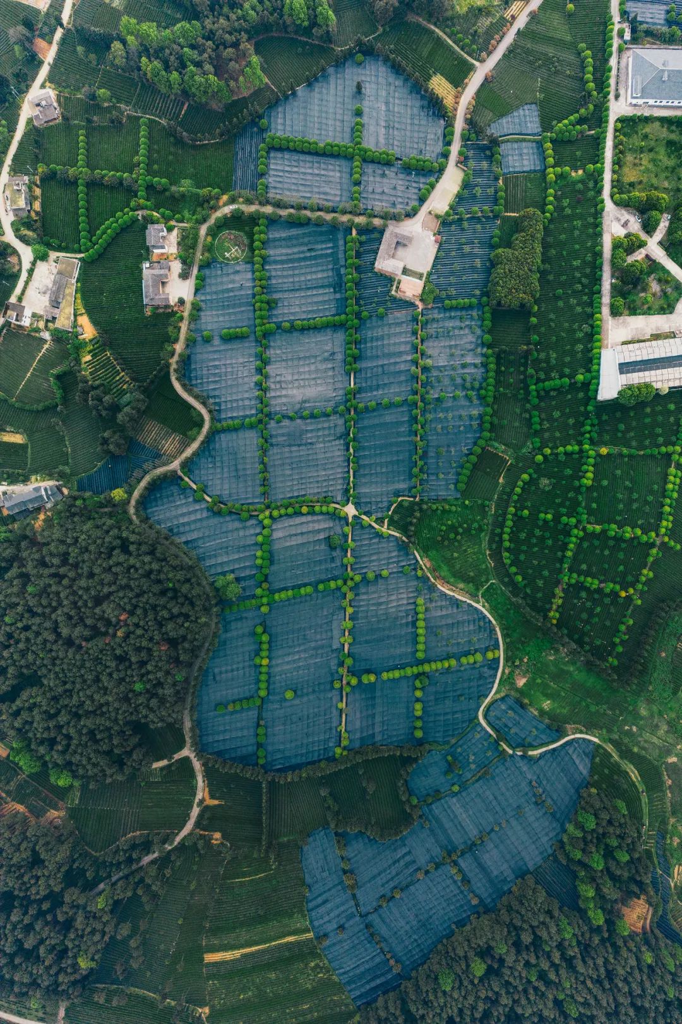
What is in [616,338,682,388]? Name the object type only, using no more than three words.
shed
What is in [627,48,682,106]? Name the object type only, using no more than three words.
building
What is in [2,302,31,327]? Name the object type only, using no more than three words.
house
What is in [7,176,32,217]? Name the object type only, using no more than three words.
house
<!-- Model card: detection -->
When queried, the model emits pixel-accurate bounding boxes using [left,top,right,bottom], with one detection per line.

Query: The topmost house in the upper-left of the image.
[29,92,59,127]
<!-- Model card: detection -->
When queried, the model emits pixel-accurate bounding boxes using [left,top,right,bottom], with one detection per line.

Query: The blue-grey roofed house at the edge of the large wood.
[0,485,65,518]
